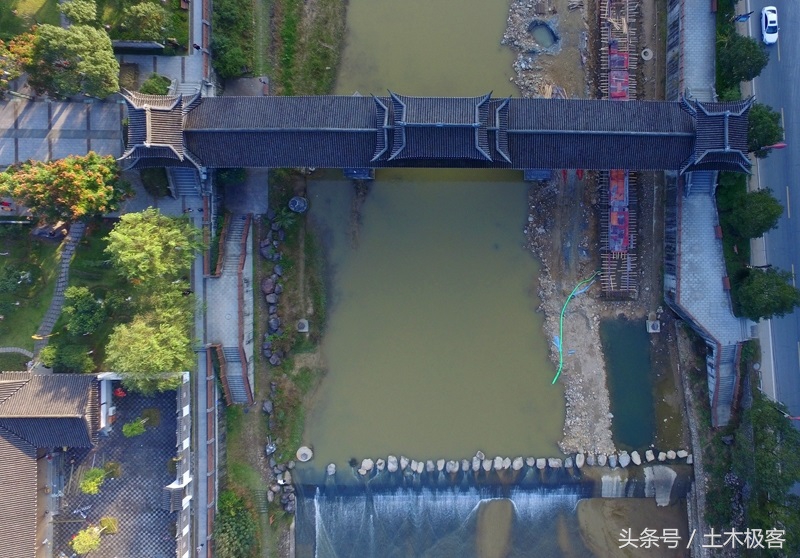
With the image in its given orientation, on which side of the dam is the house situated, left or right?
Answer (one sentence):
It is on the left side of the dam that the house is positioned.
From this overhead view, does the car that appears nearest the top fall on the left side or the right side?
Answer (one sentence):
It is on the right.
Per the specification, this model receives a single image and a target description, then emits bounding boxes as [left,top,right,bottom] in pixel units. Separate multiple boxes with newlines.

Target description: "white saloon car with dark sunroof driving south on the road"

[758,5,780,47]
